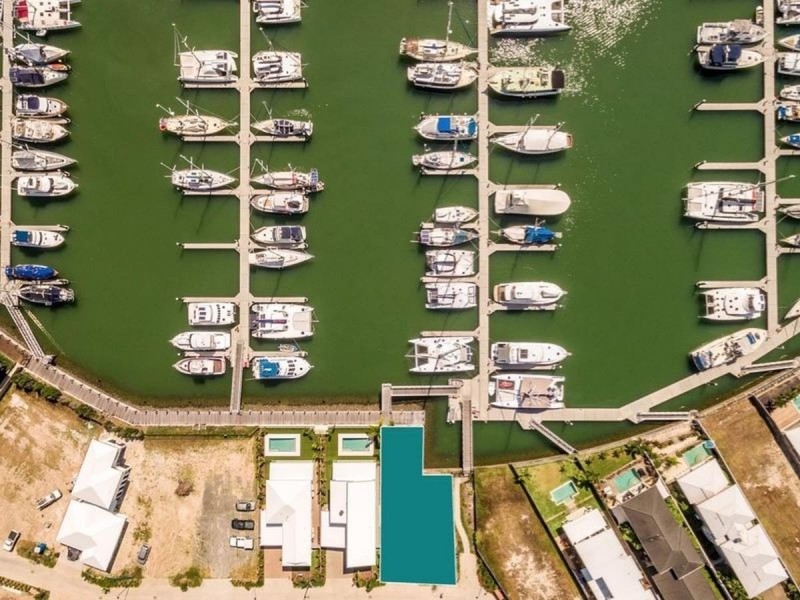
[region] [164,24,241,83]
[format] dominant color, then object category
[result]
white boat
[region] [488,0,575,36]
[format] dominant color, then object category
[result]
white boat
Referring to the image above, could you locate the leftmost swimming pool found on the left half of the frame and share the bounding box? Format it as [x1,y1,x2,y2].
[265,434,301,456]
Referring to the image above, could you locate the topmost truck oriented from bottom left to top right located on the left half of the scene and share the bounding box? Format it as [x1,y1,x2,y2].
[31,488,64,512]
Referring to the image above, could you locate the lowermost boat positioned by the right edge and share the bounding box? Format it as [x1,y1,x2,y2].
[688,323,772,377]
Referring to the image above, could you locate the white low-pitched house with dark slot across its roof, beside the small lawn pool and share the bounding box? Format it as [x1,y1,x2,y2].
[562,506,657,600]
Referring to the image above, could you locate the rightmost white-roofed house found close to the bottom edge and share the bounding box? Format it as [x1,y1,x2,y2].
[673,457,789,599]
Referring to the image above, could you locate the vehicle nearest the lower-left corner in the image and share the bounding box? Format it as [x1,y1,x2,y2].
[3,528,22,552]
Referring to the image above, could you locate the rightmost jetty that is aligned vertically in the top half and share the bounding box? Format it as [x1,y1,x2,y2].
[695,0,800,331]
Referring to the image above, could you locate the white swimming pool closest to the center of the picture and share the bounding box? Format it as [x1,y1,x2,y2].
[338,434,374,456]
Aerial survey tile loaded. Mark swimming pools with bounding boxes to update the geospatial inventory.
[682,441,714,466]
[265,434,301,456]
[549,480,579,505]
[611,466,643,495]
[338,434,374,456]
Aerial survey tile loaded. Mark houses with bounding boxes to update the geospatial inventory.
[321,459,377,569]
[611,479,732,600]
[673,457,789,599]
[56,438,135,573]
[775,416,800,470]
[260,460,314,567]
[562,506,657,600]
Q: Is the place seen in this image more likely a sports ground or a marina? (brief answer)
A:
marina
